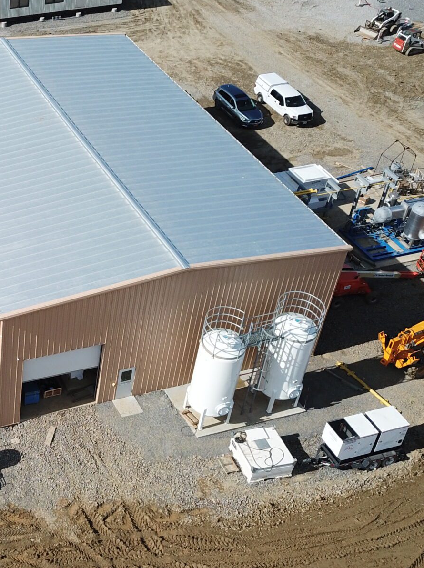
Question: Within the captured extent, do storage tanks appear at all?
Yes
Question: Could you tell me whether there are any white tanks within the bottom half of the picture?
Yes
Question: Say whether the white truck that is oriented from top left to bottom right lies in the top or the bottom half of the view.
top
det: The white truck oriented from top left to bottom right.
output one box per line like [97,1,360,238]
[254,73,320,129]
